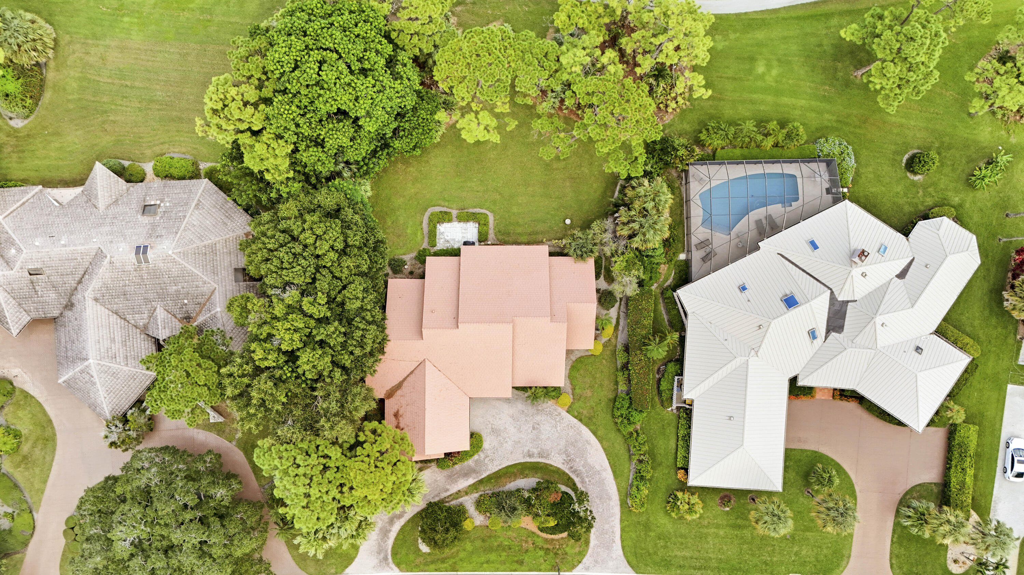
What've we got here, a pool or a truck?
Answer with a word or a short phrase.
pool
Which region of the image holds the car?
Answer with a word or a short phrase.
bottom right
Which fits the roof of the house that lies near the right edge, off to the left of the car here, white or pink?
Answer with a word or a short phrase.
white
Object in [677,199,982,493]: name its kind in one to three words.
house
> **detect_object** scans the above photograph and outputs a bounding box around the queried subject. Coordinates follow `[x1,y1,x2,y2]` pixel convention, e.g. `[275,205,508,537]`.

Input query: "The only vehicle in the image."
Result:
[1004,433,1024,480]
